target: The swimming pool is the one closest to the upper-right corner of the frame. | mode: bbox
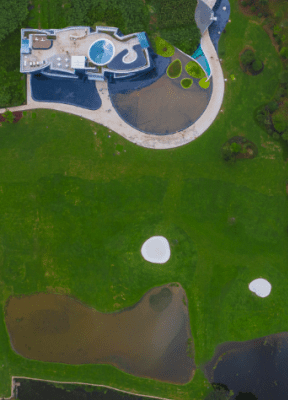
[194,46,211,76]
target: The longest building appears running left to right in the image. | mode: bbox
[20,27,153,80]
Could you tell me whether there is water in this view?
Yes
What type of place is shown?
golf course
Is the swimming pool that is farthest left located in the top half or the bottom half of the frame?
top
